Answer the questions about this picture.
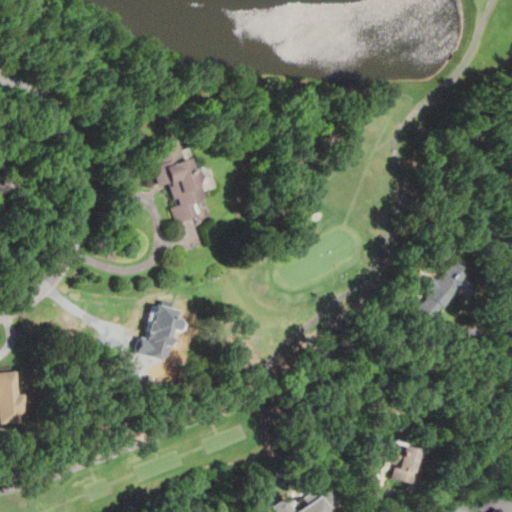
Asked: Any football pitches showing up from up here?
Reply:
No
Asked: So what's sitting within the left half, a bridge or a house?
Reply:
house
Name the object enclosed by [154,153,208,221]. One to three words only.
house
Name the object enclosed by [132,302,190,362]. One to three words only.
house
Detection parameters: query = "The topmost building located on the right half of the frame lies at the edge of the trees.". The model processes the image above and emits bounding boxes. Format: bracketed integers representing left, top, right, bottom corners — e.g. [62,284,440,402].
[418,265,469,316]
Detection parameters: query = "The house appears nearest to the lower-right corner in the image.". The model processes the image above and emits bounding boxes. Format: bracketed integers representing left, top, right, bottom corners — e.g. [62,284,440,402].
[390,446,422,484]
